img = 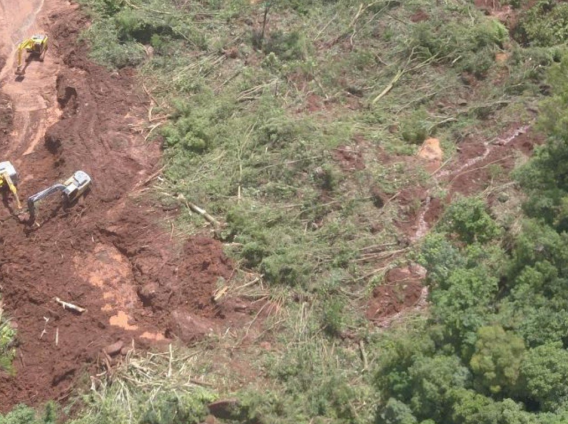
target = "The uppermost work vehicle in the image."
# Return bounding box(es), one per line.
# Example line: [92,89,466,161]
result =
[12,37,51,76]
